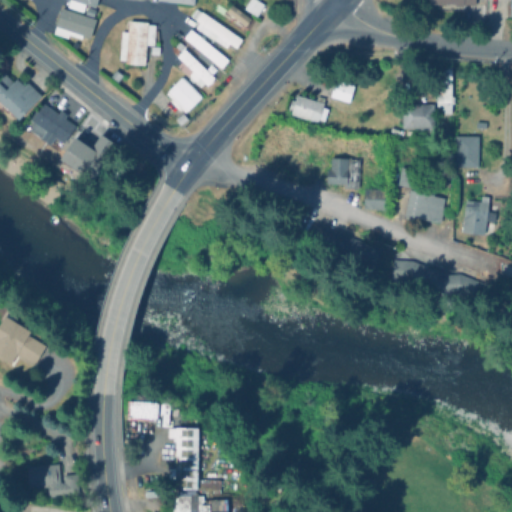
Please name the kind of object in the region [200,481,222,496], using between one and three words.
shed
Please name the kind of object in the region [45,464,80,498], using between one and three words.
house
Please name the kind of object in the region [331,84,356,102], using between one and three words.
building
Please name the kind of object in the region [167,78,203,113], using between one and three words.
house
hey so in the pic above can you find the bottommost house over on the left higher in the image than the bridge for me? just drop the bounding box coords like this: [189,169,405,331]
[61,136,113,170]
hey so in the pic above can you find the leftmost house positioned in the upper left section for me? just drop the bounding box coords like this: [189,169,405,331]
[0,74,44,120]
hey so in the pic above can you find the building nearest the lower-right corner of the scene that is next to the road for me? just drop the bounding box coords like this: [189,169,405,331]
[446,273,482,296]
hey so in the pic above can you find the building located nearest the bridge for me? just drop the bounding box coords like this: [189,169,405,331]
[130,402,158,420]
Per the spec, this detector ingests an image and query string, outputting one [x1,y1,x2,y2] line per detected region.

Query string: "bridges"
[92,184,190,394]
